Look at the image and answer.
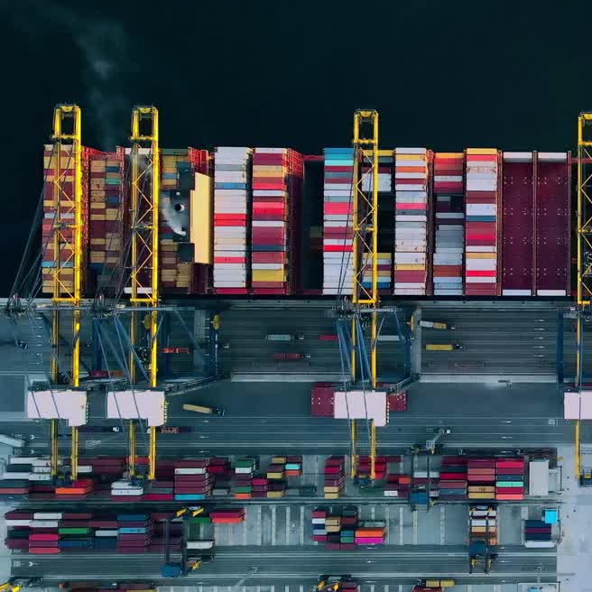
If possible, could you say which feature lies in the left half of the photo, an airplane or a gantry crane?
gantry crane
